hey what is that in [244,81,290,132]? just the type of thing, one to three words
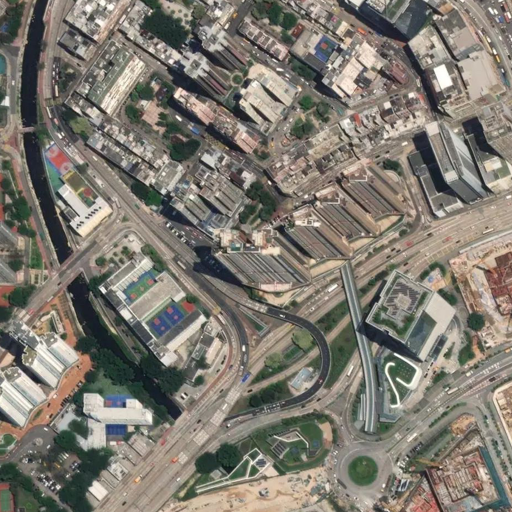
building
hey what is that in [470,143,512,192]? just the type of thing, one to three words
building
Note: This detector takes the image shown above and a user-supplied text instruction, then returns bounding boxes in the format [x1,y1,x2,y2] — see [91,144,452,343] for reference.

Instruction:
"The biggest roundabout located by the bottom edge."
[336,442,390,498]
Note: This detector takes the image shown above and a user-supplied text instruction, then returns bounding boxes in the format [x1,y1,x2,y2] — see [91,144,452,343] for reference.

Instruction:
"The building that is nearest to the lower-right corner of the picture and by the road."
[434,447,498,512]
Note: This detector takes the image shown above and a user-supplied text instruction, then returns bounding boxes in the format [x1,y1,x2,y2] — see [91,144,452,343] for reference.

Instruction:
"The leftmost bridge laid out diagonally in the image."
[34,250,89,308]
